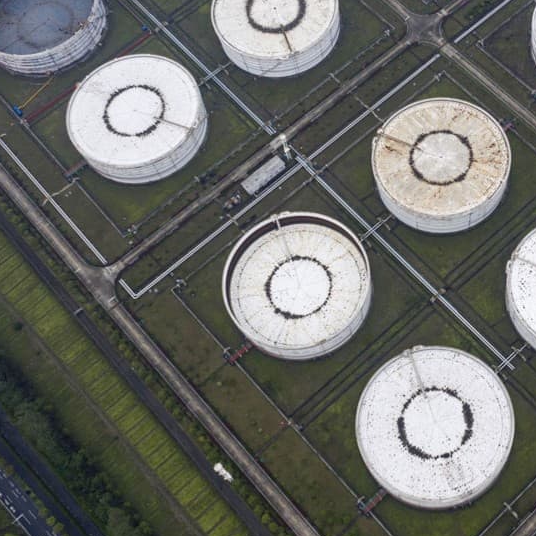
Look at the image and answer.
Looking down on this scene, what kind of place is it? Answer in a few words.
industrial area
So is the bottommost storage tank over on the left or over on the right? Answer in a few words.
right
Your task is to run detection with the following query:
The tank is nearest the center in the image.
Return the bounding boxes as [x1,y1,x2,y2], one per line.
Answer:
[220,209,375,362]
